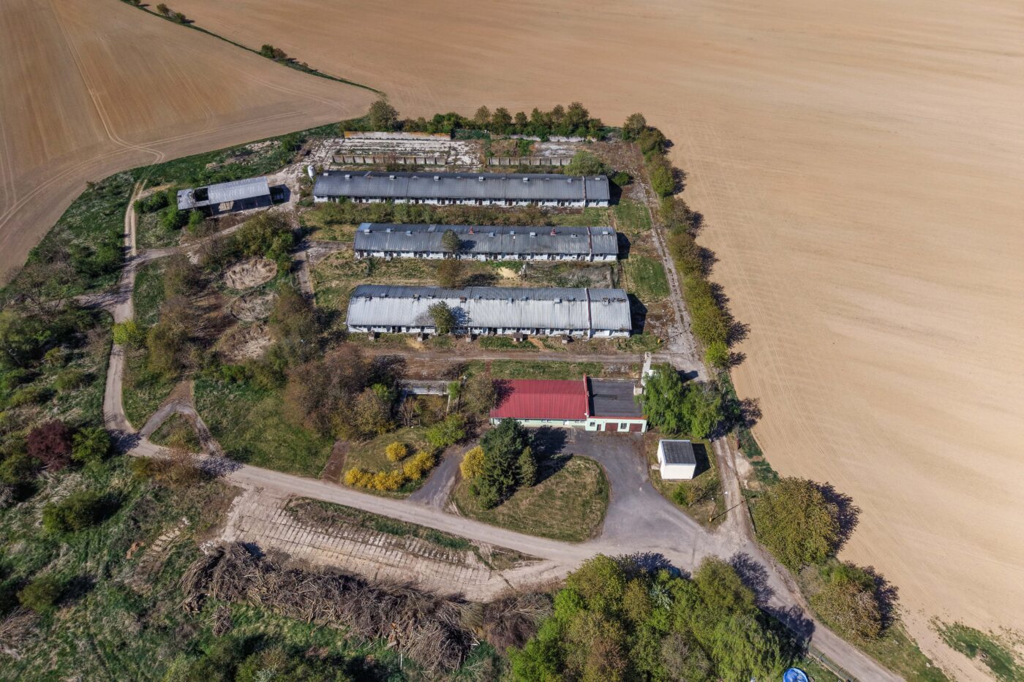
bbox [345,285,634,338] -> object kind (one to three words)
barn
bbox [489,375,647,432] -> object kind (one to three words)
building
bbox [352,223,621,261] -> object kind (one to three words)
barn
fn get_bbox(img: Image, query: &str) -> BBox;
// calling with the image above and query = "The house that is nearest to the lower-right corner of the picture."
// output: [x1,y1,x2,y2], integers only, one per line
[652,439,696,479]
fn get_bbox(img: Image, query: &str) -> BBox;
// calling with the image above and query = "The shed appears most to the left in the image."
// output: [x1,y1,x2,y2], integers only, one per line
[177,177,275,222]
